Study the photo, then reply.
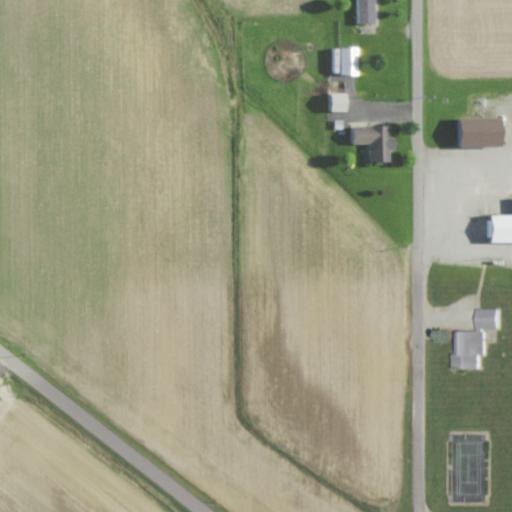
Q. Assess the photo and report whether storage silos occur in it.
No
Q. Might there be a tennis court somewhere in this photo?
Yes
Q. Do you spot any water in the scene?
No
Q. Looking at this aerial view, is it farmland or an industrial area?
farmland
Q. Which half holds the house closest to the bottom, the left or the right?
right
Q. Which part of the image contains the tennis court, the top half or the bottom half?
bottom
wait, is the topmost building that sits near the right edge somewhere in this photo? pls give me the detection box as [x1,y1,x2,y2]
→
[458,118,509,149]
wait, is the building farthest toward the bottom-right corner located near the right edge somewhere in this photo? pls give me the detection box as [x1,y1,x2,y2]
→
[450,332,488,372]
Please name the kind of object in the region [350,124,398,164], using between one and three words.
house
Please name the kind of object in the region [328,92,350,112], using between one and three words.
building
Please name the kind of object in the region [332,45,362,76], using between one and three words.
barn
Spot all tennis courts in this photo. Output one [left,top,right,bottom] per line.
[447,431,491,506]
